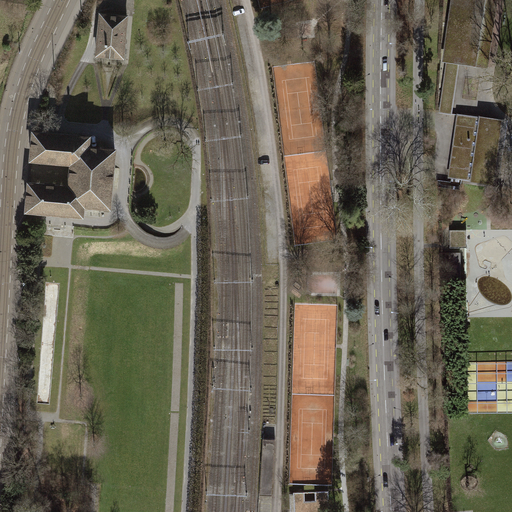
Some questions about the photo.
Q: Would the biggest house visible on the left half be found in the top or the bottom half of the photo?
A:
top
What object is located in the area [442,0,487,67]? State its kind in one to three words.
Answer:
building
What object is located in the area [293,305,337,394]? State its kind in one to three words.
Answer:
tennis court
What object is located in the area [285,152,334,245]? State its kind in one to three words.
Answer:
tennis court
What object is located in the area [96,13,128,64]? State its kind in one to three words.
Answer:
house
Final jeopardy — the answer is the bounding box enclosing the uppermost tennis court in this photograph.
[274,62,324,154]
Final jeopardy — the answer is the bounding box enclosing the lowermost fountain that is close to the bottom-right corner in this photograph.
[488,430,508,450]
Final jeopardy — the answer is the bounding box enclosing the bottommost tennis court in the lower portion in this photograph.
[290,395,335,484]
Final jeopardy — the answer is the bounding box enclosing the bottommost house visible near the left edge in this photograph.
[24,131,120,219]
